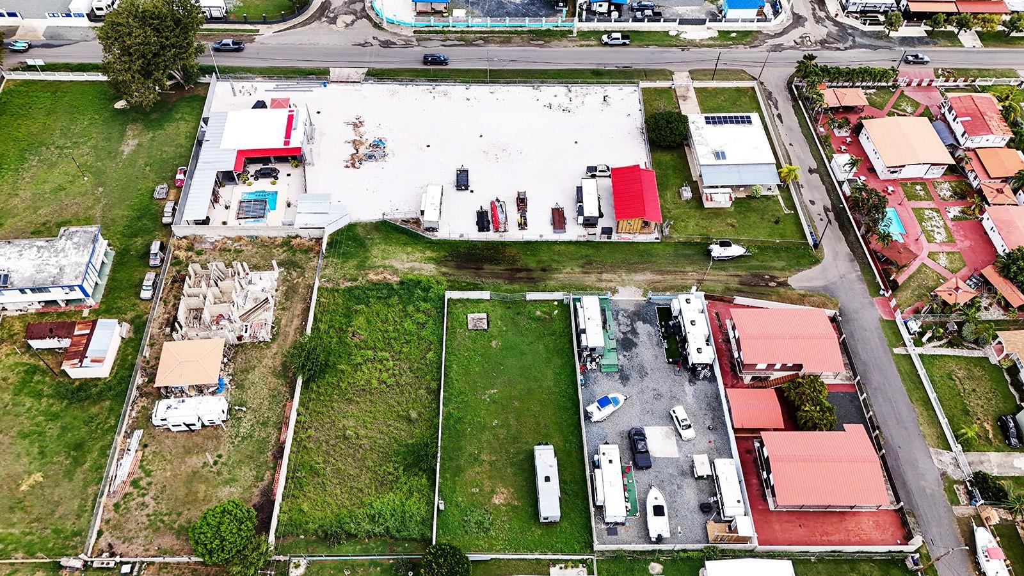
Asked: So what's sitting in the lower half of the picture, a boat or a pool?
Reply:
boat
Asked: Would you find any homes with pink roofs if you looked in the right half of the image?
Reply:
Yes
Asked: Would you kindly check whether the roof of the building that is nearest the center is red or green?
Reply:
red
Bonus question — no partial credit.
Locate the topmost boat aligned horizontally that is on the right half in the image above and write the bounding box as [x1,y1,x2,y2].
[706,242,751,258]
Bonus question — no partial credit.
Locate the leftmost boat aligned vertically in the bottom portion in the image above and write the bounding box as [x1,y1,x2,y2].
[645,486,670,542]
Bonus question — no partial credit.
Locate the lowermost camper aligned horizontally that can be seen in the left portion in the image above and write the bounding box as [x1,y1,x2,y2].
[153,395,233,431]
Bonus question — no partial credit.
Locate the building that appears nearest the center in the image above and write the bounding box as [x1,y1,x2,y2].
[612,162,661,234]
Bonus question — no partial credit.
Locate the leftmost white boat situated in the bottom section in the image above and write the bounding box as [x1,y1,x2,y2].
[583,394,625,425]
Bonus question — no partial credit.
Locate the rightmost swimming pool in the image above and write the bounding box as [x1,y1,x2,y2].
[879,206,908,242]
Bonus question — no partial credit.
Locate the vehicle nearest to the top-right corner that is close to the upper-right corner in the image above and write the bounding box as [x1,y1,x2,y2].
[902,52,932,66]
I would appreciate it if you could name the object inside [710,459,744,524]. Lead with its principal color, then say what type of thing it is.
white camper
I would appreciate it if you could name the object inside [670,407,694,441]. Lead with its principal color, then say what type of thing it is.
white car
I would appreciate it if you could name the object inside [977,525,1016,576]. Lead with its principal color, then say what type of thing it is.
white boat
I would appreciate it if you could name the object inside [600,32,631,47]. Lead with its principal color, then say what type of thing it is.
white vehicle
